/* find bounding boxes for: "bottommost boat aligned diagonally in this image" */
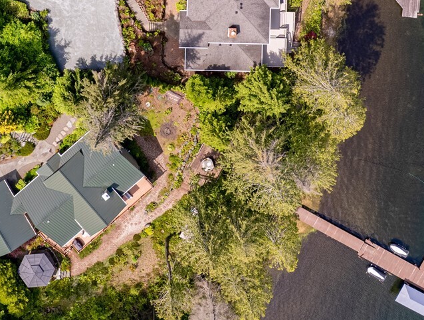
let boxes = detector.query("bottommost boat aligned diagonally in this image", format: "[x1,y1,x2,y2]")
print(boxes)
[368,268,387,282]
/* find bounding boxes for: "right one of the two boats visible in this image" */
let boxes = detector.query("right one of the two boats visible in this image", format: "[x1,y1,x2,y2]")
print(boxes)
[391,245,411,259]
